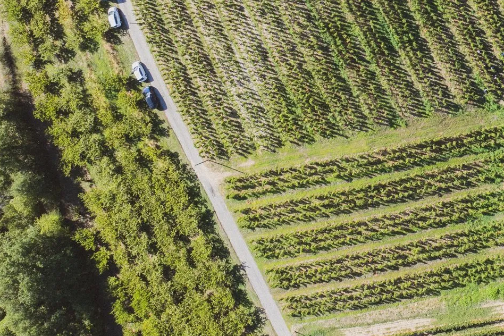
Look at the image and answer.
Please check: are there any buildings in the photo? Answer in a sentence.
No, there is no building in the image.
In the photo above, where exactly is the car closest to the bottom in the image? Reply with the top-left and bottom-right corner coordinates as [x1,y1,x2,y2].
[142,85,159,110]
